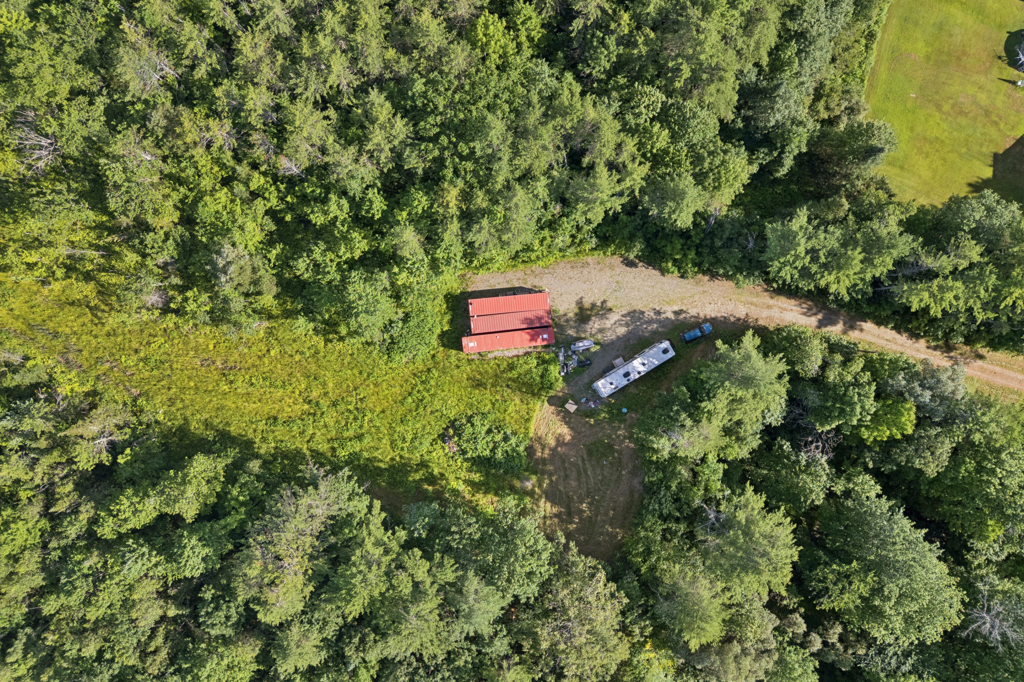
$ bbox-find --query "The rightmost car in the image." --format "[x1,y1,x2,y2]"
[679,321,712,343]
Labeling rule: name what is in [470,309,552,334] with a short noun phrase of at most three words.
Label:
shipping container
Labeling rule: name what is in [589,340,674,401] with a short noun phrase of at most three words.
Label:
camper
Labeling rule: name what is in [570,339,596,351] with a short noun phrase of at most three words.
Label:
boat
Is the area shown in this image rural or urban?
rural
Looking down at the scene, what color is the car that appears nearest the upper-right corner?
blue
